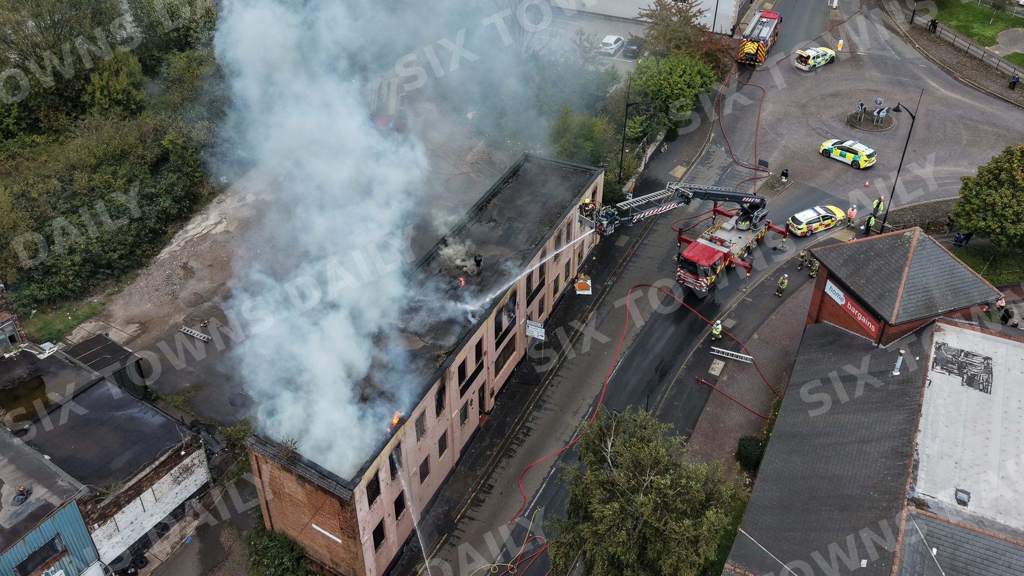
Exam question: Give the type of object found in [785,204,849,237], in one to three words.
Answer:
car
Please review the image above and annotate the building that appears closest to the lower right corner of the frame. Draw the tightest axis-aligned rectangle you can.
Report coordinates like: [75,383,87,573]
[713,222,1024,576]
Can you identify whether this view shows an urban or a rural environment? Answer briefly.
urban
